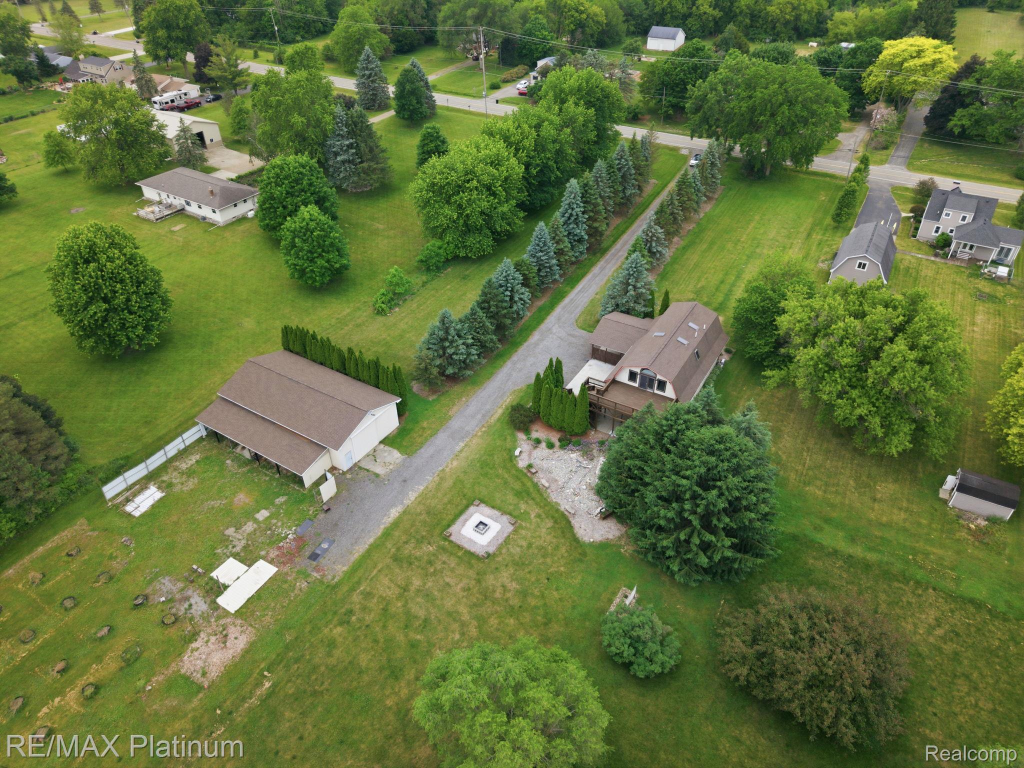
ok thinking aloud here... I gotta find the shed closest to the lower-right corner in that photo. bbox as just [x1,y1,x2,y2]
[950,467,1022,523]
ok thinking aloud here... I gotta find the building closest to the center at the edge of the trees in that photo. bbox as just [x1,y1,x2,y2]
[564,301,727,427]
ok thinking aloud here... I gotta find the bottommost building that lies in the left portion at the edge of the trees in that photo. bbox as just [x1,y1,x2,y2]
[188,353,400,488]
